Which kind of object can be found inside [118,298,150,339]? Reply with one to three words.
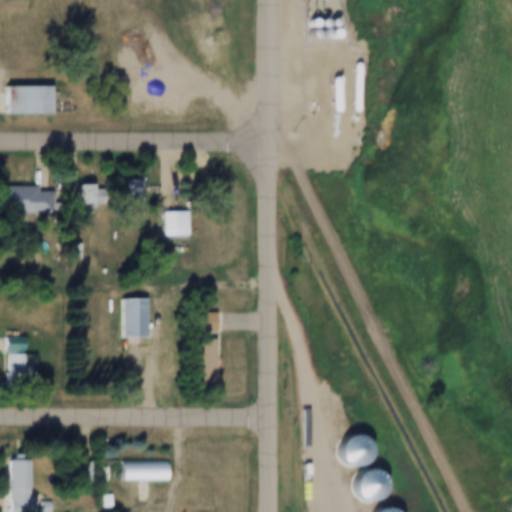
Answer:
building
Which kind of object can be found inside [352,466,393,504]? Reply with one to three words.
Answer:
silo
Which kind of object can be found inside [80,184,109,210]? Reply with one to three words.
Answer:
house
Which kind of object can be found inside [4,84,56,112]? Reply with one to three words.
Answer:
shed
